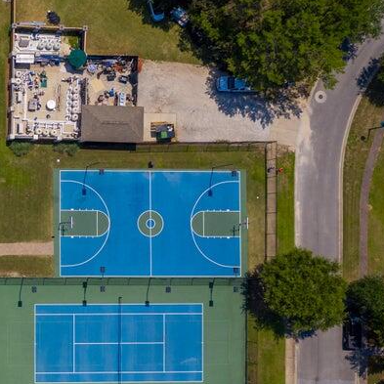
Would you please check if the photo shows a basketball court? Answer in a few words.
Yes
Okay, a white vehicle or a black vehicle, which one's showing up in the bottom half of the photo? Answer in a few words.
black vehicle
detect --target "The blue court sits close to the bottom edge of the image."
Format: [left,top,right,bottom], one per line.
[8,299,230,384]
